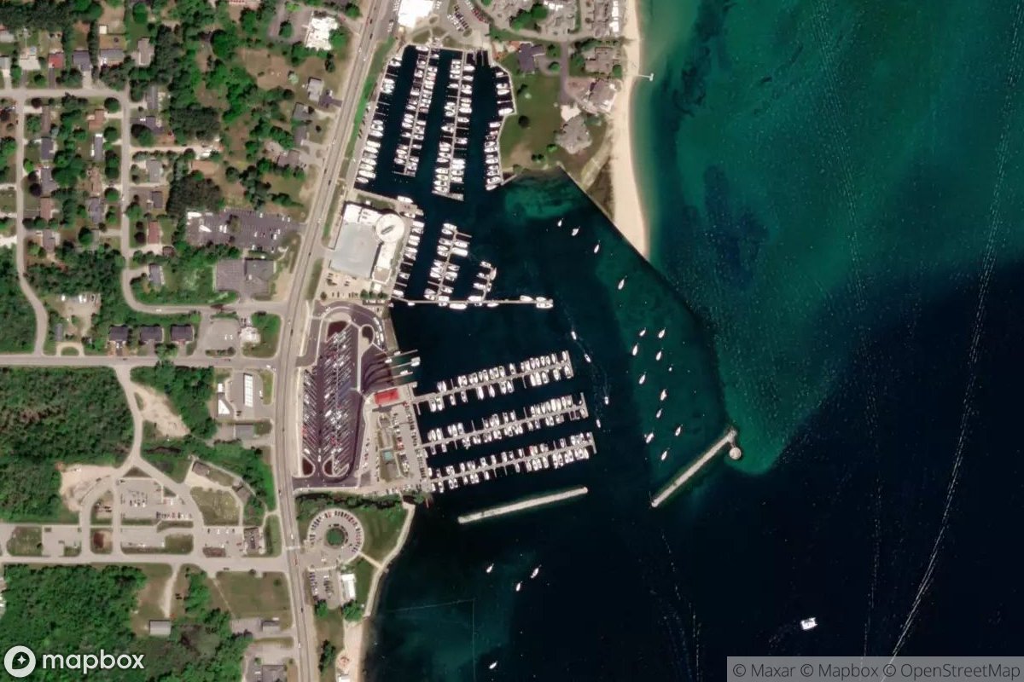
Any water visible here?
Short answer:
Yes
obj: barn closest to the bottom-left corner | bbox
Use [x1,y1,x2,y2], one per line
[148,621,170,637]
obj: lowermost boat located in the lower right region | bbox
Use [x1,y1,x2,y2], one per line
[800,618,818,631]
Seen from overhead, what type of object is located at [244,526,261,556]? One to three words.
building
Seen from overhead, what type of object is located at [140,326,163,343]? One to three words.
house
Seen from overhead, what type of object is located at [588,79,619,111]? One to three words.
house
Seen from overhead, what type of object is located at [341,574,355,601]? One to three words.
building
